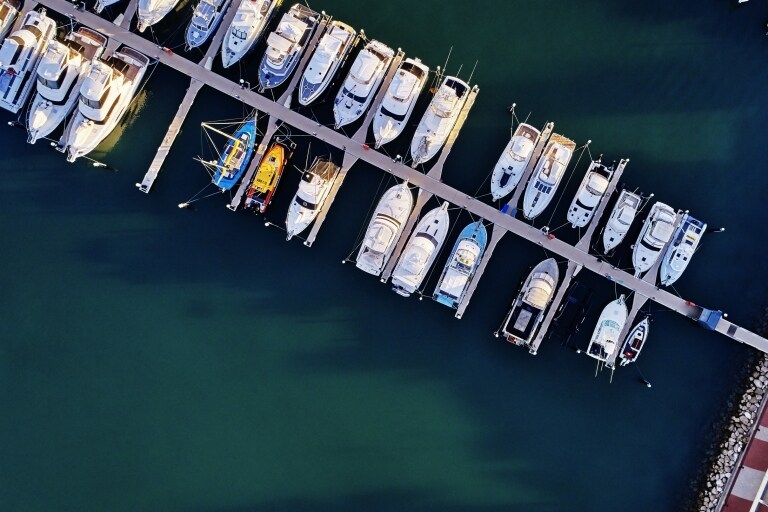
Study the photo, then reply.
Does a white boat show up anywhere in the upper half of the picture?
Yes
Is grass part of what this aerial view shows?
No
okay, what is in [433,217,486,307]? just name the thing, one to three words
boat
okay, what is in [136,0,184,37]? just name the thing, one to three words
boat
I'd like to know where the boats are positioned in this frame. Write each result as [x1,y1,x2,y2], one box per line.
[502,259,556,345]
[374,58,430,149]
[585,295,625,384]
[300,21,358,104]
[184,0,233,52]
[568,159,614,227]
[659,214,707,287]
[334,40,394,129]
[598,187,641,253]
[223,0,282,68]
[286,144,340,241]
[623,202,676,277]
[413,49,478,169]
[433,217,486,307]
[0,10,51,115]
[136,0,184,37]
[97,0,124,15]
[354,178,411,275]
[490,113,542,201]
[258,3,322,91]
[30,25,110,142]
[245,143,284,211]
[195,112,258,196]
[525,133,578,218]
[388,201,447,298]
[69,50,155,160]
[620,318,649,365]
